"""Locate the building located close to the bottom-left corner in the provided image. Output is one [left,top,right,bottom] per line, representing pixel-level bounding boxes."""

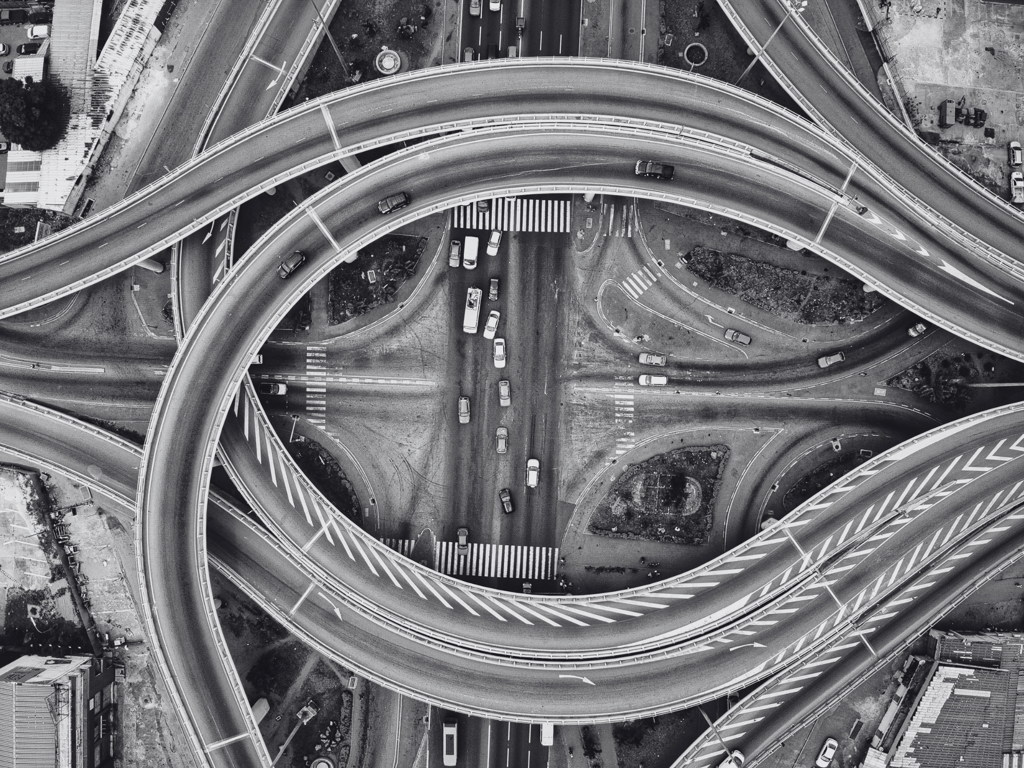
[0,657,117,768]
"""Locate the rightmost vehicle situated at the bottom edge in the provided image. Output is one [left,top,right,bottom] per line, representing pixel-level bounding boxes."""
[814,734,838,768]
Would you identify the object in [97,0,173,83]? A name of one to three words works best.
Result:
shed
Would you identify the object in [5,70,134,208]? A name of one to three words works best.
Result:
shed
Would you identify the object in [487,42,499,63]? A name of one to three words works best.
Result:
vehicle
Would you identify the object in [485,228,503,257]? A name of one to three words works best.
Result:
car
